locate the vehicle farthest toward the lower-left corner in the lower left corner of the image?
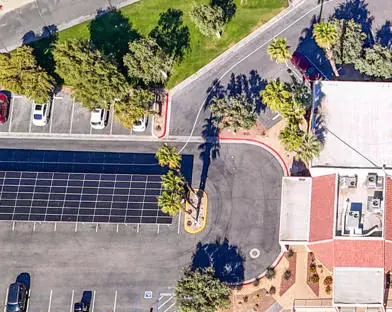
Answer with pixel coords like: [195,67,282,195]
[4,283,26,312]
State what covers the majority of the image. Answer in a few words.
paved ground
